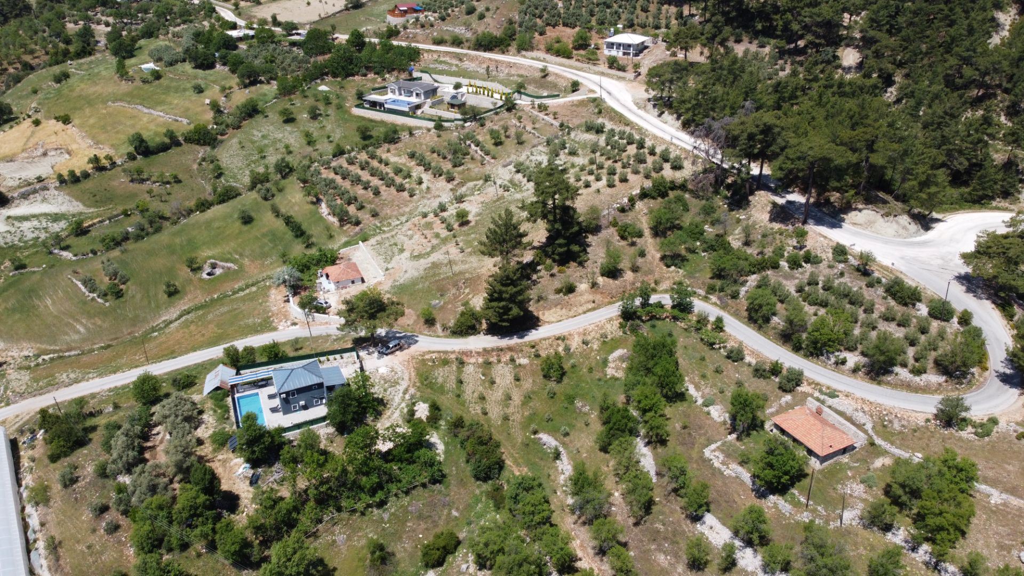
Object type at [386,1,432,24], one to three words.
building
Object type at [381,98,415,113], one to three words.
swimming pool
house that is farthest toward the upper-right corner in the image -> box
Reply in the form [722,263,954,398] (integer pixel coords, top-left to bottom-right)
[603,29,646,55]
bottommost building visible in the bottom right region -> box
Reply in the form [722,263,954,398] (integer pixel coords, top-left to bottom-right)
[771,401,858,466]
